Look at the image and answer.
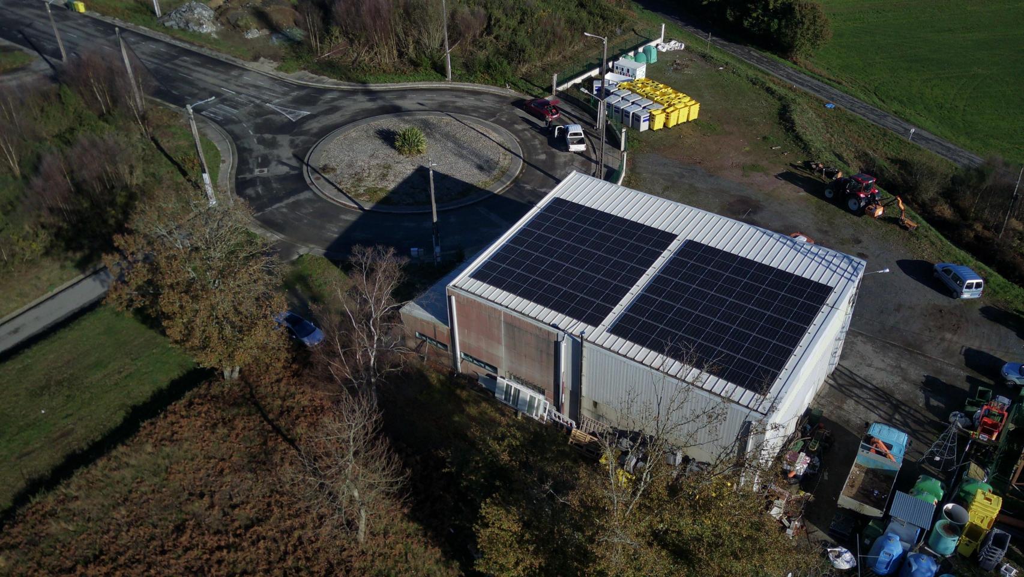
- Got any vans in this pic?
Yes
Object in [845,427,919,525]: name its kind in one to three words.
truck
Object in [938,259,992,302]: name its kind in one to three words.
van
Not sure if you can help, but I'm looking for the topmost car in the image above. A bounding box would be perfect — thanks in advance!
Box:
[520,99,561,122]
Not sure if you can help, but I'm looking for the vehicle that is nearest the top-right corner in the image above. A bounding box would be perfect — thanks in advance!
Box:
[827,168,886,212]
